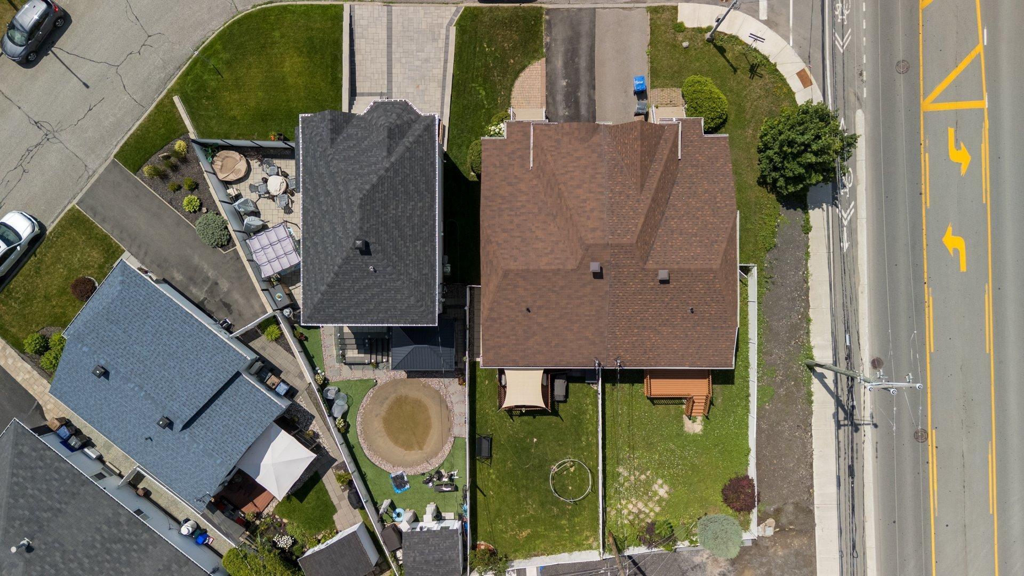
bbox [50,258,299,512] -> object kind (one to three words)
house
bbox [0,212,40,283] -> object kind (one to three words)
car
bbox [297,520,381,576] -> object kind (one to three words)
shed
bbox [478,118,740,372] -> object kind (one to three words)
house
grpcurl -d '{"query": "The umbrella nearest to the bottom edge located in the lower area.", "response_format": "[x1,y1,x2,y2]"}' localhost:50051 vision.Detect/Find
[376,500,392,525]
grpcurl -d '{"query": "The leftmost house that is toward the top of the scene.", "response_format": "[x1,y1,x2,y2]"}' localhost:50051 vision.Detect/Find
[295,99,453,325]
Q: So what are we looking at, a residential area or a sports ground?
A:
residential area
